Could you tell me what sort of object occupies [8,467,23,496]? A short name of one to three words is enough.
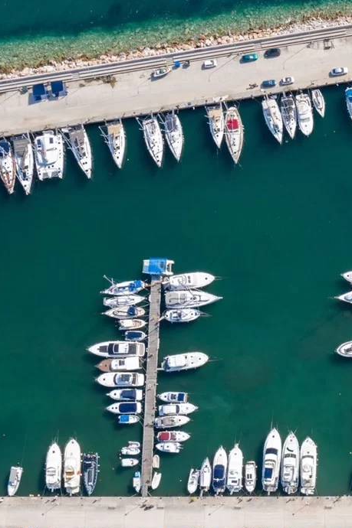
boat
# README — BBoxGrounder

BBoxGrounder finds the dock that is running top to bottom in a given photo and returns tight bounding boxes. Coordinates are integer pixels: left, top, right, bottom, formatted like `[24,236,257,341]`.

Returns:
[140,276,162,498]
